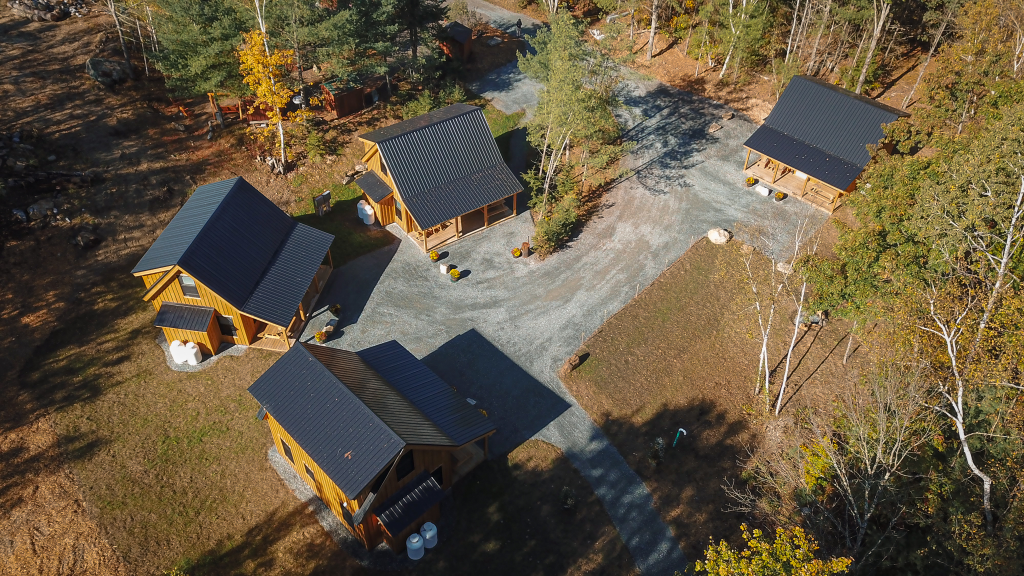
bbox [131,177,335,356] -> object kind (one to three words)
building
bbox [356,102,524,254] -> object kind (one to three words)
building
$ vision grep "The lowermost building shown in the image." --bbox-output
[248,341,497,557]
